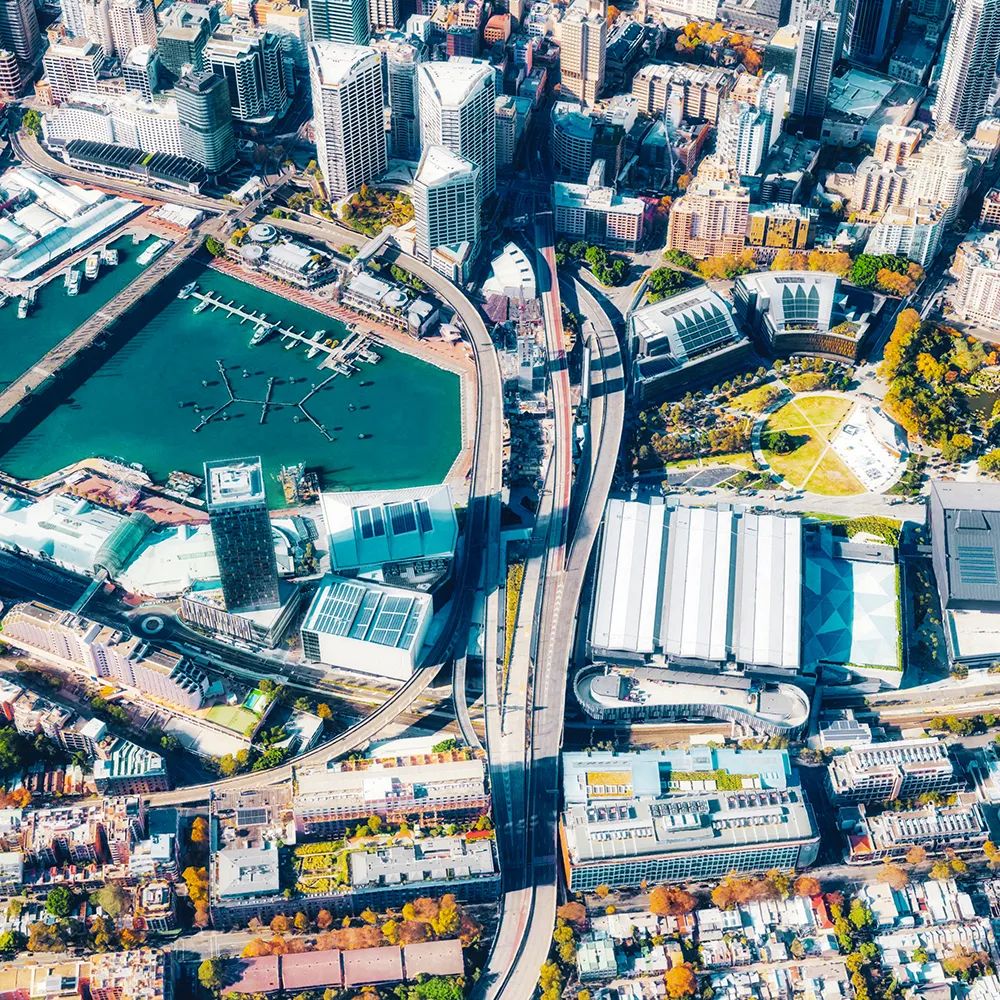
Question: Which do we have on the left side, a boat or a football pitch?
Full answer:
You can see a boat on the left side.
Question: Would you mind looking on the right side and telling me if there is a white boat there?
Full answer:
No, no white boat appears on the right side.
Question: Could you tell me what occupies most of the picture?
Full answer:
For the most part, this view shows buildings.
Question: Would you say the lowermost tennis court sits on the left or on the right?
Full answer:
You can find the lowermost tennis court on the left side of the picture.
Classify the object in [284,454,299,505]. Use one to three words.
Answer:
ship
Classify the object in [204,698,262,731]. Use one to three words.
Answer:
tennis court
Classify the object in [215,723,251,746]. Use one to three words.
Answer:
shed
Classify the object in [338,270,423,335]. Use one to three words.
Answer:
building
